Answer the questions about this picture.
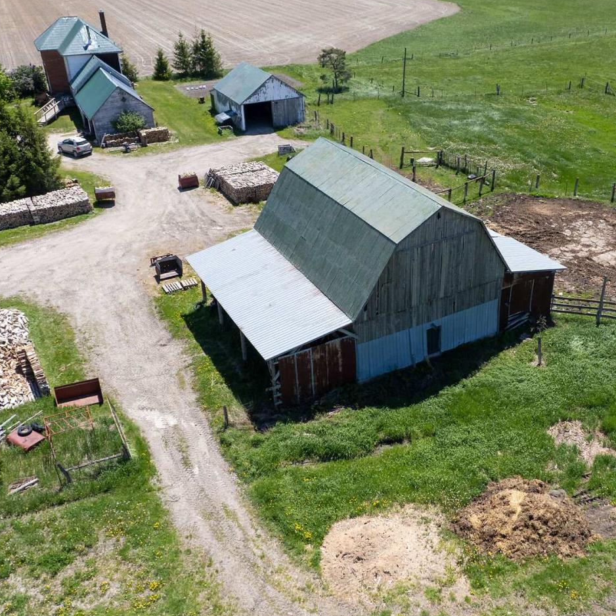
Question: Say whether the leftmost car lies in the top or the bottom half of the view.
top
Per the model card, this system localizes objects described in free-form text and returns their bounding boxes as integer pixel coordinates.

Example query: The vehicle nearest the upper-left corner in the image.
[59,134,91,155]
